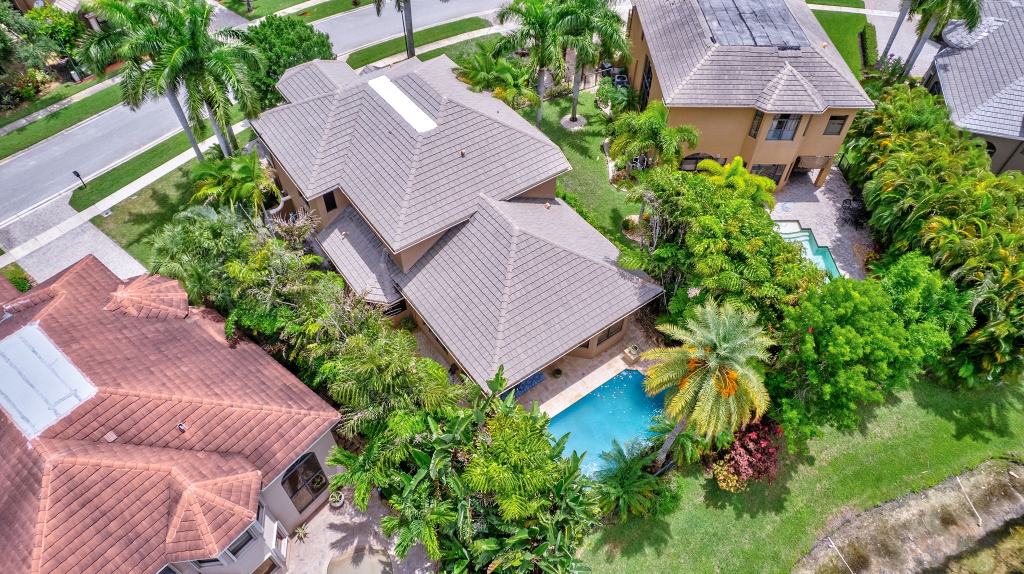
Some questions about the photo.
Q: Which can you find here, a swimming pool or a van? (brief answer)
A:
swimming pool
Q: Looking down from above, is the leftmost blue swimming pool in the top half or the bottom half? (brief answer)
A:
bottom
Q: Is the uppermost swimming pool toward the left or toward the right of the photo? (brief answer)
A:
right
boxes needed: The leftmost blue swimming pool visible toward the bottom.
[542,365,706,482]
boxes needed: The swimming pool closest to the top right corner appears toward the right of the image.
[765,219,845,290]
